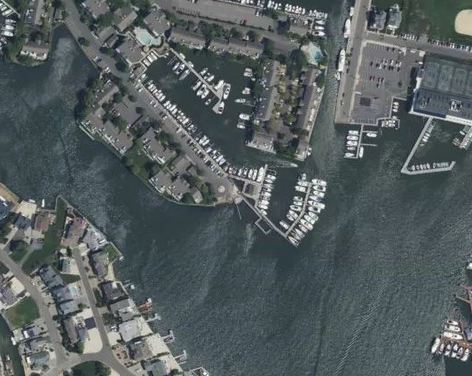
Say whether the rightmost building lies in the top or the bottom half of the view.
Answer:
top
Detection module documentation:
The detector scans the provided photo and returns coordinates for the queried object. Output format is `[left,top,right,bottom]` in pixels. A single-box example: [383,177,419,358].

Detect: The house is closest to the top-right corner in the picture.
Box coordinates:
[388,1,407,30]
